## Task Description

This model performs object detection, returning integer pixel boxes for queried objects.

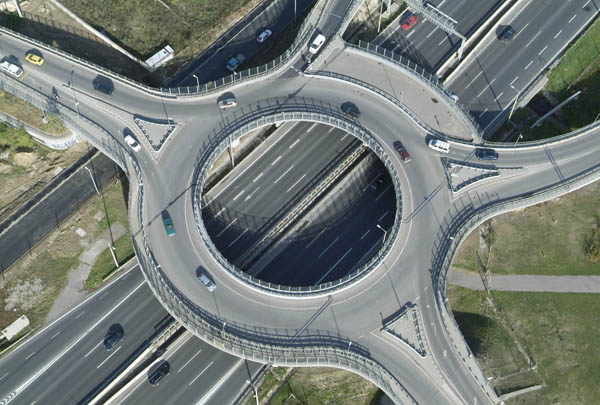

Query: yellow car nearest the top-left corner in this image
[23,53,46,67]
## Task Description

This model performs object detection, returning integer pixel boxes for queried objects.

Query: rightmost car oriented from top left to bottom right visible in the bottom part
[197,269,217,292]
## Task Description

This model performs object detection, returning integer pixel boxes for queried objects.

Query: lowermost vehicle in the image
[148,360,172,384]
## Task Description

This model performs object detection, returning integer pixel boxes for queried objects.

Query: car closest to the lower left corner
[101,324,125,348]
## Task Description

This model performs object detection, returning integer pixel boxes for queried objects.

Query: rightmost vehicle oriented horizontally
[475,148,499,160]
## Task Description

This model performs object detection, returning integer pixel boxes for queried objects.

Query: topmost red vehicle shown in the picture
[400,15,419,31]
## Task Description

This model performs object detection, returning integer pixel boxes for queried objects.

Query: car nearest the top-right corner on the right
[496,25,517,42]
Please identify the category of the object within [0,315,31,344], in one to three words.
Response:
building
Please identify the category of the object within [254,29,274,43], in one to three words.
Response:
car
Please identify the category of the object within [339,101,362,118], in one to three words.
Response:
car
